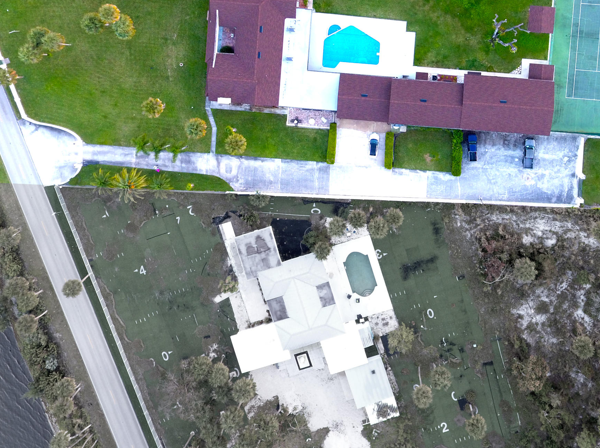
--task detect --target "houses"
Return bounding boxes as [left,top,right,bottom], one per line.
[219,220,374,374]
[204,0,340,111]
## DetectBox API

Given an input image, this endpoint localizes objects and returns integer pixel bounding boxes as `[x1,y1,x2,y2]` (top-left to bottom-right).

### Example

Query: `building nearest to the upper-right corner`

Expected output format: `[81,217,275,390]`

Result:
[527,5,555,34]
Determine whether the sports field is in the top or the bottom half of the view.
bottom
